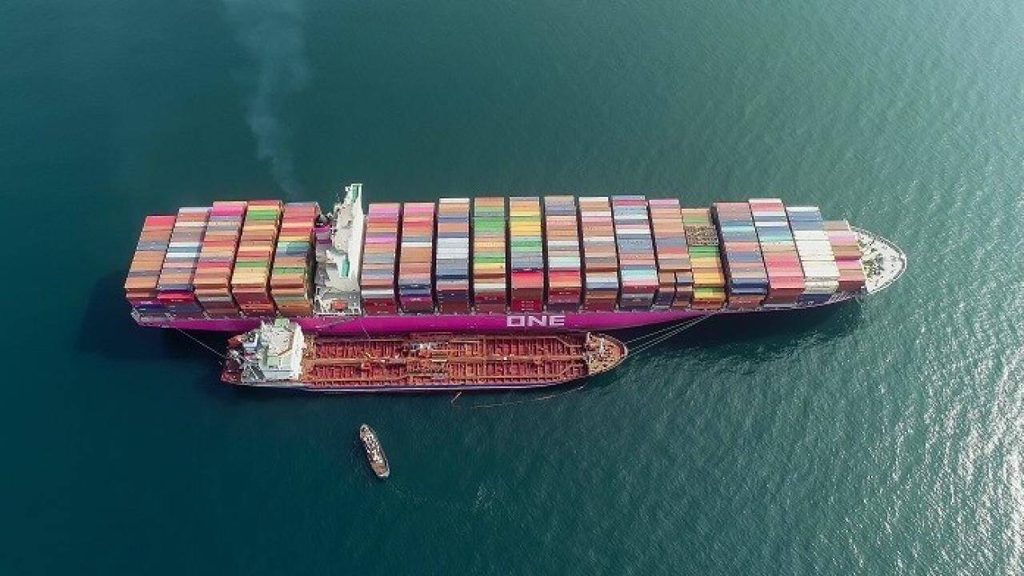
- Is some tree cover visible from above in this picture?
No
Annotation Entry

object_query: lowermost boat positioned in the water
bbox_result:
[357,421,393,478]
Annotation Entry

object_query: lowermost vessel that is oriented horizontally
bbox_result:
[220,322,630,398]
